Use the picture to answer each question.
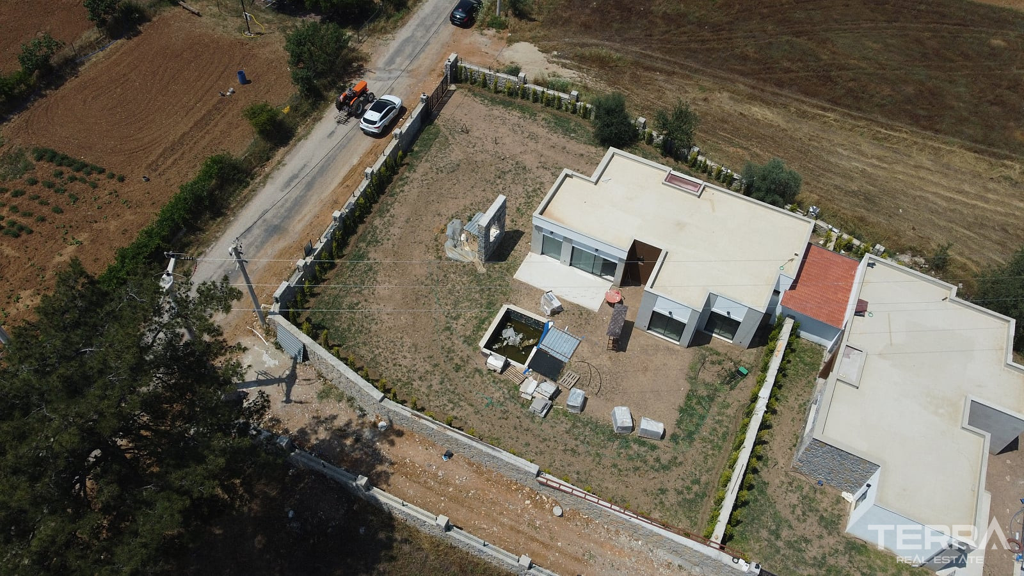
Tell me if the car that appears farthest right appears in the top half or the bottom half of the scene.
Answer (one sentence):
The car that appears farthest right sits in the top half of the picture.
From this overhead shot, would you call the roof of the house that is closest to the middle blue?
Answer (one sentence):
No, the roof of the house that is closest to the middle is white.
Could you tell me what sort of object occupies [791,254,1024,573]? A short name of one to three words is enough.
house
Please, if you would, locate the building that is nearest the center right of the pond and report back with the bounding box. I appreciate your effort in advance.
[530,147,816,348]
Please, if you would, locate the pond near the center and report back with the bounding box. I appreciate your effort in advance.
[481,301,552,369]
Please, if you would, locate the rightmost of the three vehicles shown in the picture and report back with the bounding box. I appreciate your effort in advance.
[455,0,486,25]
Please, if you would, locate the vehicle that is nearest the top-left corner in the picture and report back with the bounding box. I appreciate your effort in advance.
[327,82,372,128]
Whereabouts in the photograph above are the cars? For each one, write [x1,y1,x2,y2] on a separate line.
[455,0,486,25]
[360,94,404,133]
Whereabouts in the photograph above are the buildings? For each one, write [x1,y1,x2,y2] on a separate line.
[791,254,1024,573]
[530,147,816,348]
